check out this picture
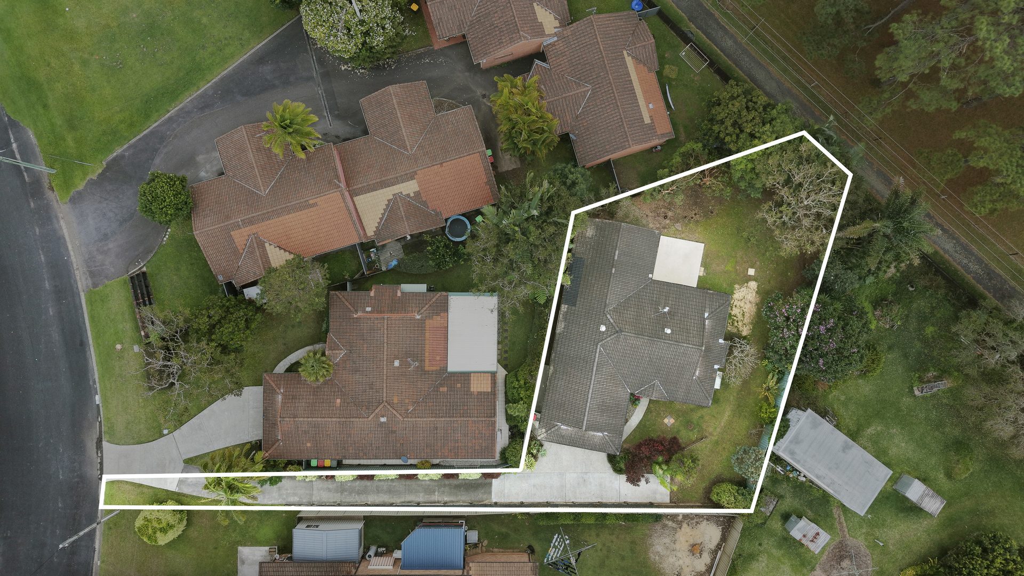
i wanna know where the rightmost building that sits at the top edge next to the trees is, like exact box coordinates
[525,10,675,170]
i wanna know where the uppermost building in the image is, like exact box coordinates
[427,0,571,73]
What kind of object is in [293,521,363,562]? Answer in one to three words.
shed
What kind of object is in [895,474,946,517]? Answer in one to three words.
shed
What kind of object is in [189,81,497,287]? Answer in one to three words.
house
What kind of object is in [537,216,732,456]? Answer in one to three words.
house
